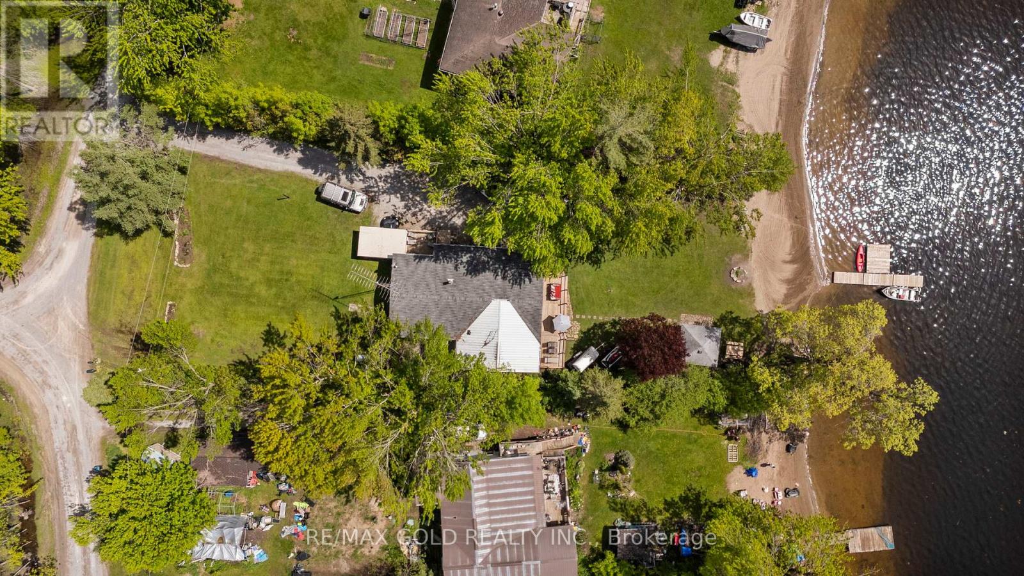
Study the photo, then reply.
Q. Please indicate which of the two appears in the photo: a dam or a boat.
boat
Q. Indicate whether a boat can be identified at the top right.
Yes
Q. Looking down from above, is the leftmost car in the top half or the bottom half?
top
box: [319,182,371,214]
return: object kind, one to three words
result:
car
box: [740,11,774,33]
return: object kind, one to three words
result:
boat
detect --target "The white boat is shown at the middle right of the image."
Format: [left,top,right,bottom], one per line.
[880,286,928,303]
